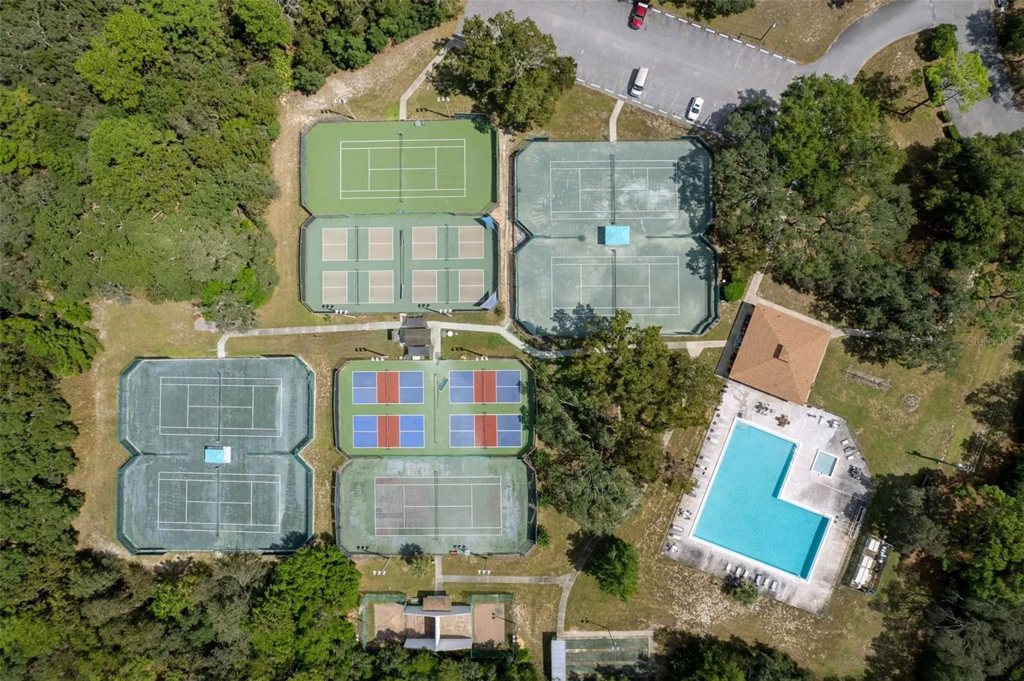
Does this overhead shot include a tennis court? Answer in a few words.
Yes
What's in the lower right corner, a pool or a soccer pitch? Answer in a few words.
pool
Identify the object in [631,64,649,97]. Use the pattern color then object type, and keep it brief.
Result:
white vehicle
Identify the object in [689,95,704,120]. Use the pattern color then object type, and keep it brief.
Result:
white car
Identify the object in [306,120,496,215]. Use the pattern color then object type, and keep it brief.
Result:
green tennis court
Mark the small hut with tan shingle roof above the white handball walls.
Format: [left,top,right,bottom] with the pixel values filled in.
[423,593,452,610]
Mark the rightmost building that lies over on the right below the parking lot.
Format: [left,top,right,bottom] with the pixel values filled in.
[726,304,831,405]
